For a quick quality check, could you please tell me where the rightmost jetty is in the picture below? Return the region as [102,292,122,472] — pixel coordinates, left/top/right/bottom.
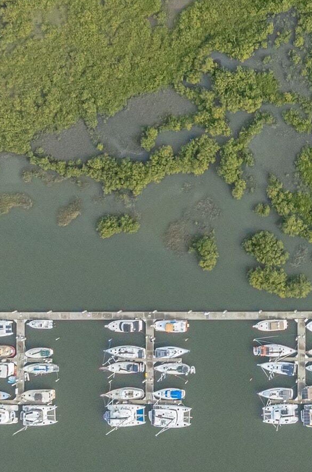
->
[270,320,312,404]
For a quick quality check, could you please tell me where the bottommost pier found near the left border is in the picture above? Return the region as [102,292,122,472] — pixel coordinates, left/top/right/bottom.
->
[0,320,54,405]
